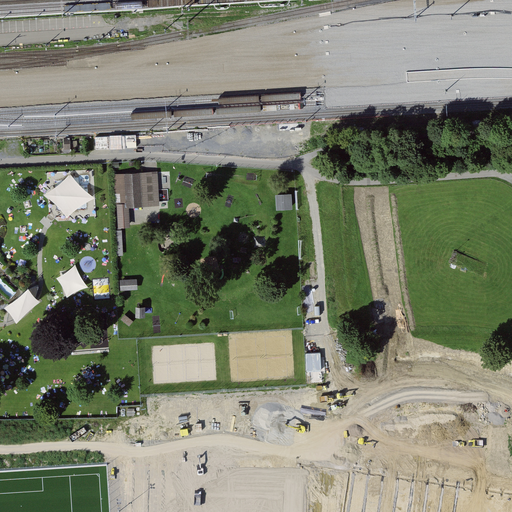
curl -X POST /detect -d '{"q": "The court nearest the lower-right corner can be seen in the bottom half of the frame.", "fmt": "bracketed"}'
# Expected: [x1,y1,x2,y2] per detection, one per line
[229,330,294,382]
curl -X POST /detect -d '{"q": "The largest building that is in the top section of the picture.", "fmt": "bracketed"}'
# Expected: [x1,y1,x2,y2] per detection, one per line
[114,172,159,226]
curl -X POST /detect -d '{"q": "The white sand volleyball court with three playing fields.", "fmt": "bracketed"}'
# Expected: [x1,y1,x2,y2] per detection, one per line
[152,343,216,384]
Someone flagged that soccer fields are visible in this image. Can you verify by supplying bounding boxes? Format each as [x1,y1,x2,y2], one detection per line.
[0,464,110,512]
